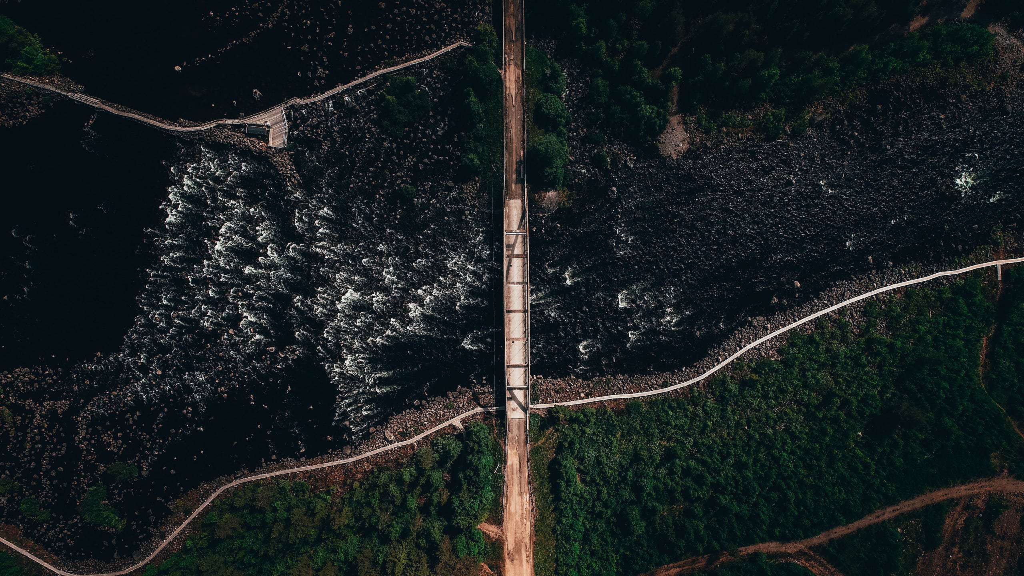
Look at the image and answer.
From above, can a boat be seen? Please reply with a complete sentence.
No, the photo shows no boat.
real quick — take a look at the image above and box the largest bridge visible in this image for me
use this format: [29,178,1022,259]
[503,199,531,419]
